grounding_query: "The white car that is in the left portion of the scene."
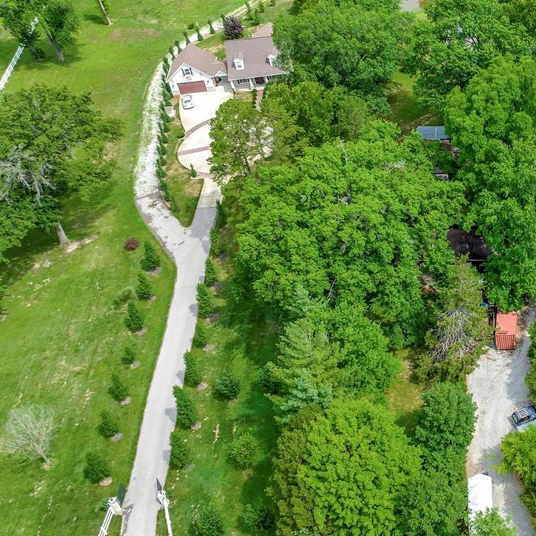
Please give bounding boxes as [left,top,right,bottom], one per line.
[179,93,192,107]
